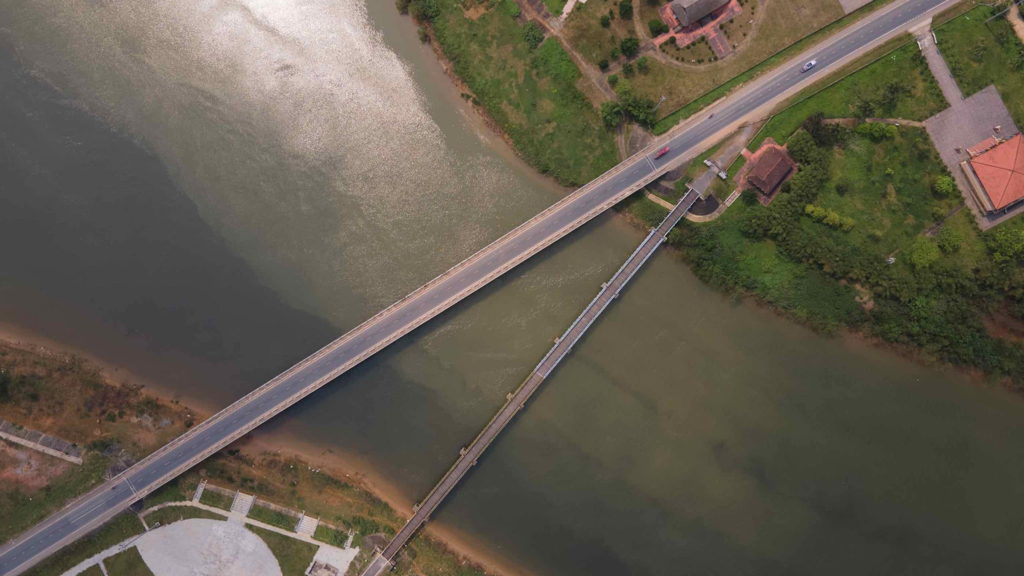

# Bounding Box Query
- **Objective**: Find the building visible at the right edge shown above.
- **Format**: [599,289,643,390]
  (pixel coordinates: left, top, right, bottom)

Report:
[956,133,1024,211]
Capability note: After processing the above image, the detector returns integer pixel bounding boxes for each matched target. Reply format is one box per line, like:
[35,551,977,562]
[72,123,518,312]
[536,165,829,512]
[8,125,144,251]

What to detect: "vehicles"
[800,61,816,72]
[654,147,670,158]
